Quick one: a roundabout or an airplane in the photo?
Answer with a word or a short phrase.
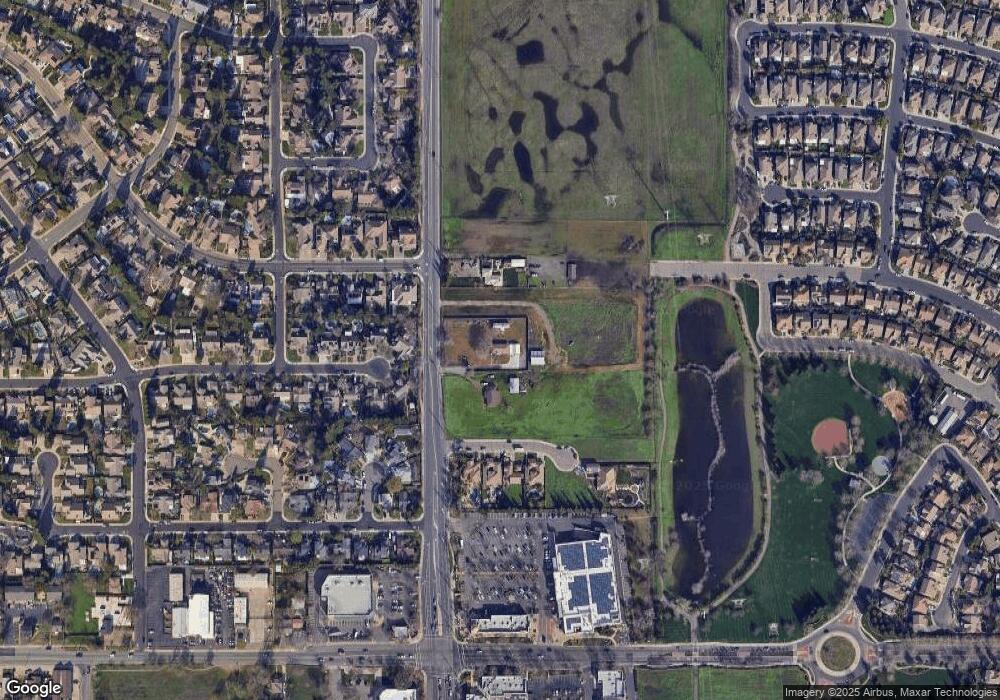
roundabout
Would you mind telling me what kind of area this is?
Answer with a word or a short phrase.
residential area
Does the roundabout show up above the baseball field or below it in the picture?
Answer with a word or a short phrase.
below it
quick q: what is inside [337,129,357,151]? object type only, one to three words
house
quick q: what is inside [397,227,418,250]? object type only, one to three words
house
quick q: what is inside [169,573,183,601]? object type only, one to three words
building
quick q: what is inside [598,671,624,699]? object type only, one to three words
building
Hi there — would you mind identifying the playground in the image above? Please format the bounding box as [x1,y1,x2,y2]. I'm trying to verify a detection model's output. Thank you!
[881,390,909,423]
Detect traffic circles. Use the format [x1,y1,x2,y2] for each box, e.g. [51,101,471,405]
[798,610,876,690]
